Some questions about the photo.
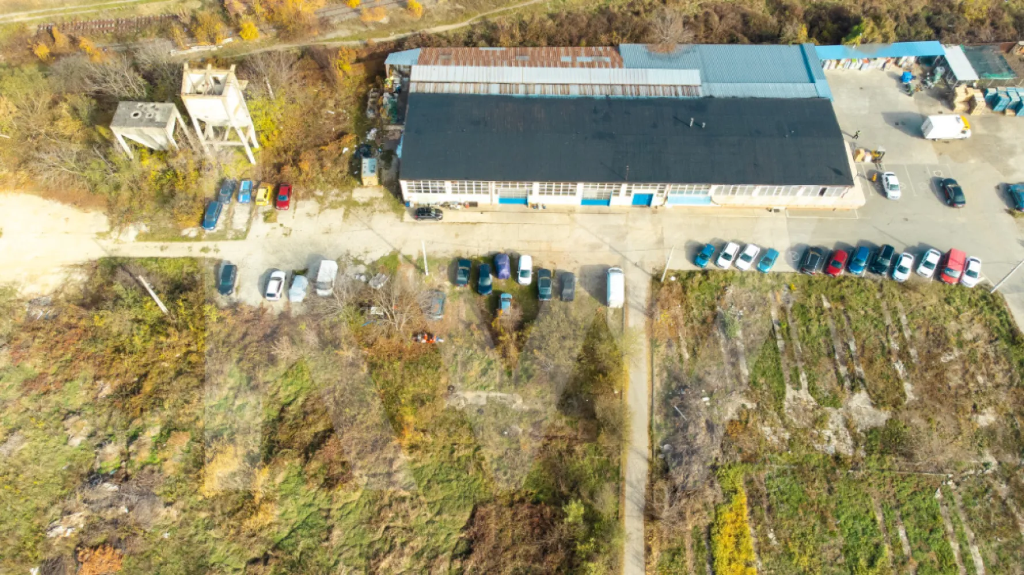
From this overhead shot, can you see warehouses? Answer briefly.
Yes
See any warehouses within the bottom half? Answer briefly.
No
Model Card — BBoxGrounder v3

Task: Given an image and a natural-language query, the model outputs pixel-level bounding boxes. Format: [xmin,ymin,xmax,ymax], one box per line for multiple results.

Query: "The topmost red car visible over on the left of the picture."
[274,182,294,211]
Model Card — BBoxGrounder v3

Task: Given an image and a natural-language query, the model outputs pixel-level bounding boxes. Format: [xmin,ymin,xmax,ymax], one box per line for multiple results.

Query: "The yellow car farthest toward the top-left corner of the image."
[254,181,274,207]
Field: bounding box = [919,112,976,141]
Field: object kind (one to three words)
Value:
truck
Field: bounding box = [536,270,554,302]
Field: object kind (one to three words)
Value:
car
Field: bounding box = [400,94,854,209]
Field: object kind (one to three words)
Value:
warehouse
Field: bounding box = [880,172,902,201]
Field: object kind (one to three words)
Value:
car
